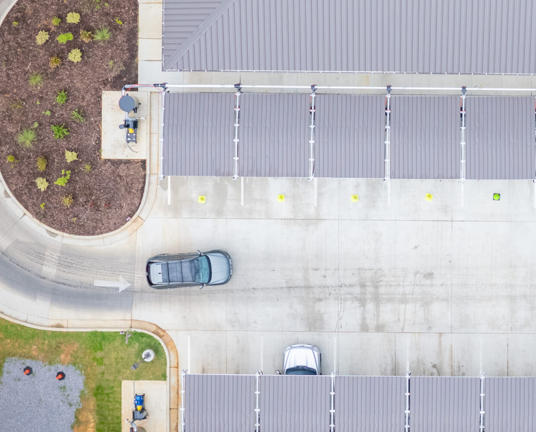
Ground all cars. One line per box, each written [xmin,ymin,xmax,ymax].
[146,250,233,290]
[280,342,323,376]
